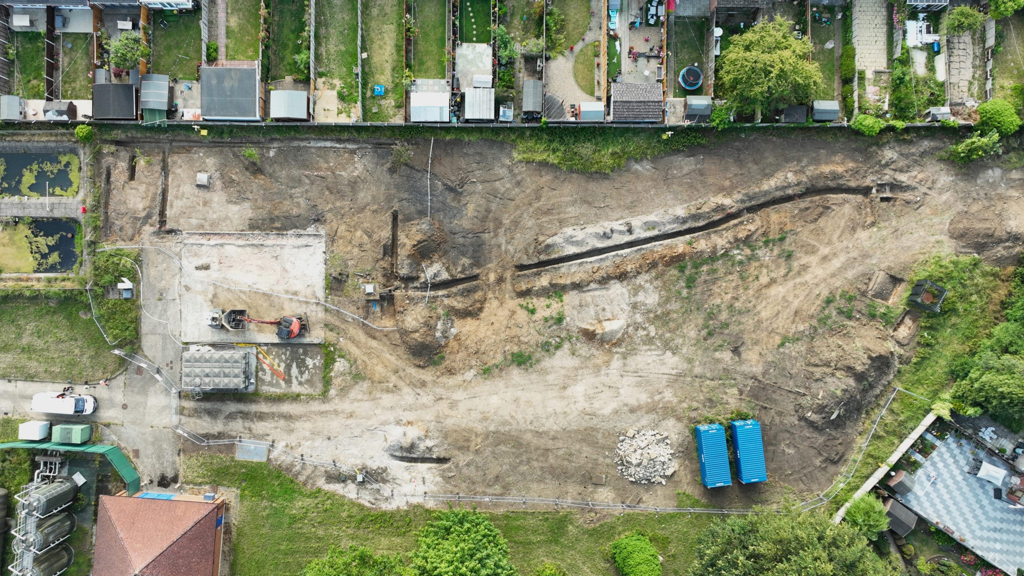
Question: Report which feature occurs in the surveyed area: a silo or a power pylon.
silo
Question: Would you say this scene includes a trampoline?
Yes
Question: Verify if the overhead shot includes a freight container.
Yes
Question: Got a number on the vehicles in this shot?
3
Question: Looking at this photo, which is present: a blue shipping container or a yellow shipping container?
blue shipping container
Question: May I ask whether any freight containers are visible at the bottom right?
Yes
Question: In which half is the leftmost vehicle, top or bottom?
bottom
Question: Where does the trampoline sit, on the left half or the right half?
right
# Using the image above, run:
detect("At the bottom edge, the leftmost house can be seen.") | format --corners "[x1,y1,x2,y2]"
[91,489,228,576]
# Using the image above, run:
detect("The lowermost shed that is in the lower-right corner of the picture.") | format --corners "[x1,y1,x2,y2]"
[886,497,920,534]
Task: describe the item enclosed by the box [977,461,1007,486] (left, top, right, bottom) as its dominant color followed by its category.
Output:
white umbrella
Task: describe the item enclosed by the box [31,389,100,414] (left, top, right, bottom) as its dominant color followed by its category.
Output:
white vehicle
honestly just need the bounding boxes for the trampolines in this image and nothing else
[679,62,707,91]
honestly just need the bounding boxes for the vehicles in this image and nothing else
[233,314,307,335]
[31,389,100,414]
[203,310,244,331]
